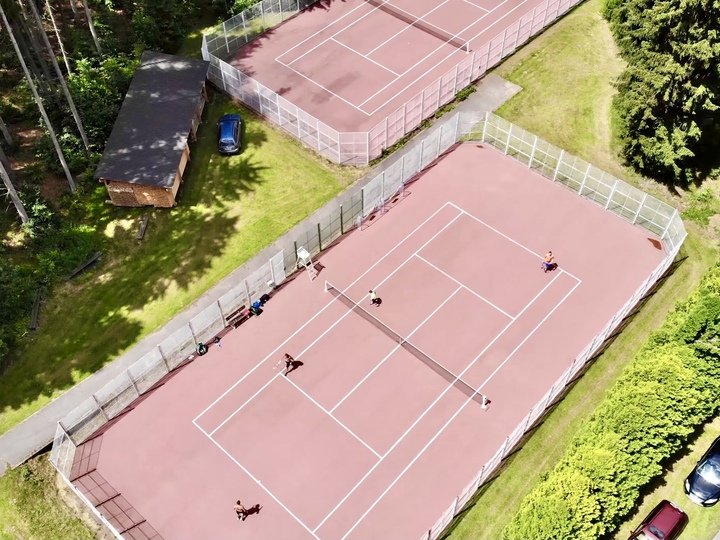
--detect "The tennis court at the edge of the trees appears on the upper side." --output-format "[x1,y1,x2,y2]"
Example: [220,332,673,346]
[206,0,581,165]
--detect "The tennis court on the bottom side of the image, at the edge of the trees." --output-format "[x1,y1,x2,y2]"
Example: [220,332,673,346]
[70,141,669,540]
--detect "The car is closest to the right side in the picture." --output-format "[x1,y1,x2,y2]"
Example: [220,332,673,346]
[683,432,720,502]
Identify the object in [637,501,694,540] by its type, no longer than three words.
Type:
car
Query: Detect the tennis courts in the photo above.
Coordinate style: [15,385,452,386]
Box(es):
[70,141,669,540]
[206,0,581,165]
